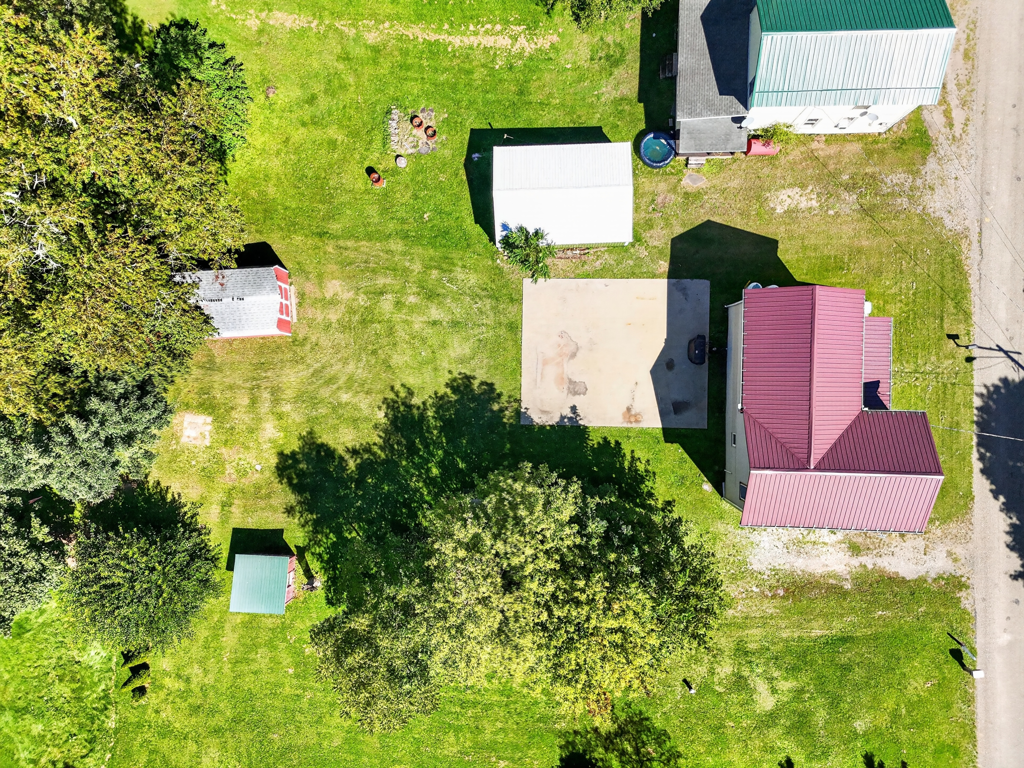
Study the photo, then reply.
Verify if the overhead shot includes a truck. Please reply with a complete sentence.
No, the photo shows no truck.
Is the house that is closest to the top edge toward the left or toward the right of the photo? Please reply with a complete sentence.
You can find the house that is closest to the top edge on the right side of the picture.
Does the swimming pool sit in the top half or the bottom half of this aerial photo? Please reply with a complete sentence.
The swimming pool is in the top half of the image.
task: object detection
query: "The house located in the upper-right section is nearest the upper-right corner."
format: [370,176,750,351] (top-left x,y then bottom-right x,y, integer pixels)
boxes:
[648,0,957,172]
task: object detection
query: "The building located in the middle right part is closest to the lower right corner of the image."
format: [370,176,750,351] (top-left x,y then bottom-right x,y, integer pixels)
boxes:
[715,285,943,534]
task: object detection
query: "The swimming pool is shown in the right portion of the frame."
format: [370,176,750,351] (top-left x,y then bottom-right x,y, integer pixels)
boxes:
[638,130,673,169]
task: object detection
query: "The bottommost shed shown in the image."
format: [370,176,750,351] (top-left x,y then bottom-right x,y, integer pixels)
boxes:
[227,554,294,614]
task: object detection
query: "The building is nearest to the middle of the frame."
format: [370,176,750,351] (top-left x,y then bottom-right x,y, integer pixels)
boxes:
[493,142,634,253]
